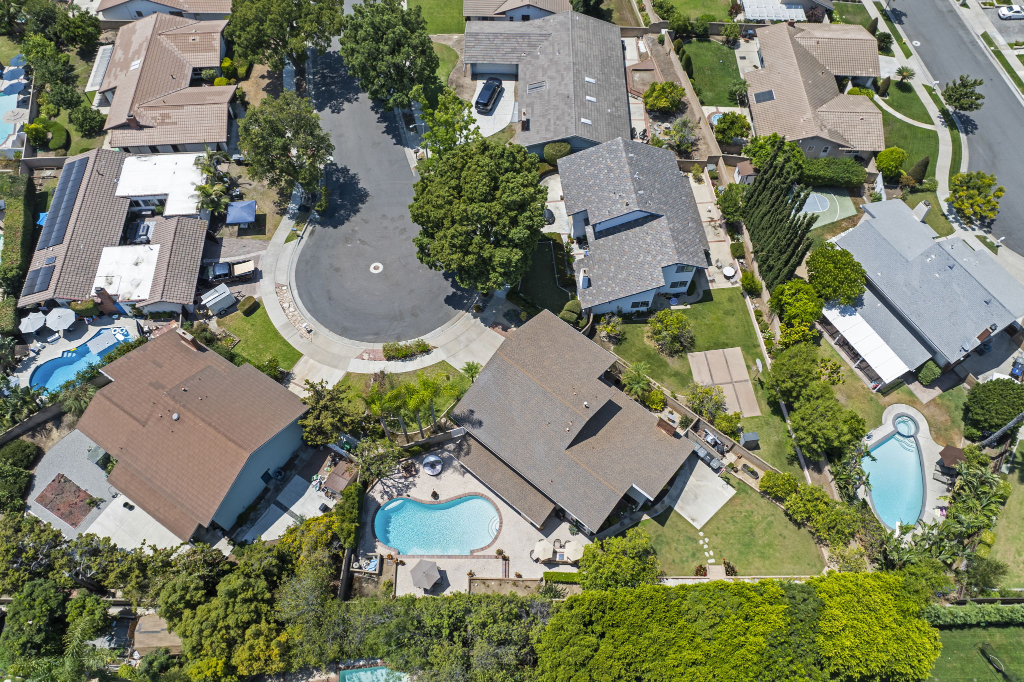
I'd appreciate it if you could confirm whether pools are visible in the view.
Yes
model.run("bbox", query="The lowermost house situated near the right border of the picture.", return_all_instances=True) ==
[838,182,1024,372]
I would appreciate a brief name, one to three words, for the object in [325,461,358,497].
shed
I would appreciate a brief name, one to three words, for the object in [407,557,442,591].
umbrella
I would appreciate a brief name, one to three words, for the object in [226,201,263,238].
tent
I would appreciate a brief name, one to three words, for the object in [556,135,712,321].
house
